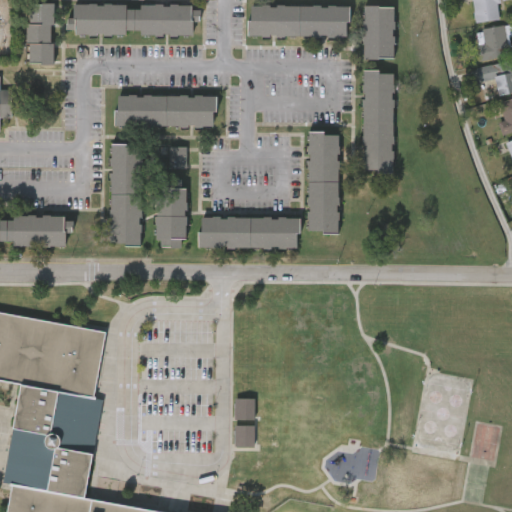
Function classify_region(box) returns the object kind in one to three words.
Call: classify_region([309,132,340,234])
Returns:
building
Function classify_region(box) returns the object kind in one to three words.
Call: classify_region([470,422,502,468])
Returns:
basketball court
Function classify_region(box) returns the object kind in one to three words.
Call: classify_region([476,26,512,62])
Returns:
house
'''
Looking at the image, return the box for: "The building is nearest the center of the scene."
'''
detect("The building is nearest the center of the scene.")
[198,218,301,250]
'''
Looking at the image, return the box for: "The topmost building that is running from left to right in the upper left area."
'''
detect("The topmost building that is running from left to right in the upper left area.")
[66,4,202,38]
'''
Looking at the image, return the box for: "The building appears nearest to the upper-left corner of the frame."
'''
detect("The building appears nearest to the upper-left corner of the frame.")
[26,4,55,64]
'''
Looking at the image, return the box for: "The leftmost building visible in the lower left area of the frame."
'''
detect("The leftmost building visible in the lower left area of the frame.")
[0,313,158,512]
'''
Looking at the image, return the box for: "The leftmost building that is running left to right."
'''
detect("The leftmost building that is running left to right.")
[0,216,74,248]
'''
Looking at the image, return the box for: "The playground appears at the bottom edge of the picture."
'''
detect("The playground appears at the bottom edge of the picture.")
[321,438,380,487]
